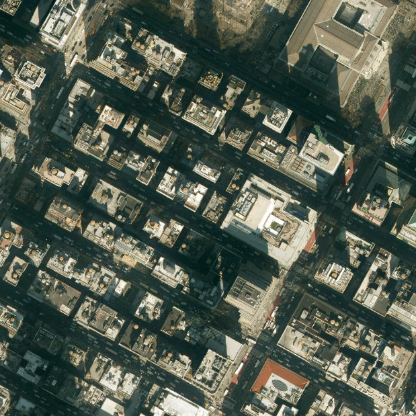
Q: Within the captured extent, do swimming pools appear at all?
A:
No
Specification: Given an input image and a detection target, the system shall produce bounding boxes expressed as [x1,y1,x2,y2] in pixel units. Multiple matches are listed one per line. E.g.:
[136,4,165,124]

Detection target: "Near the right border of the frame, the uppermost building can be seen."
[278,0,398,93]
